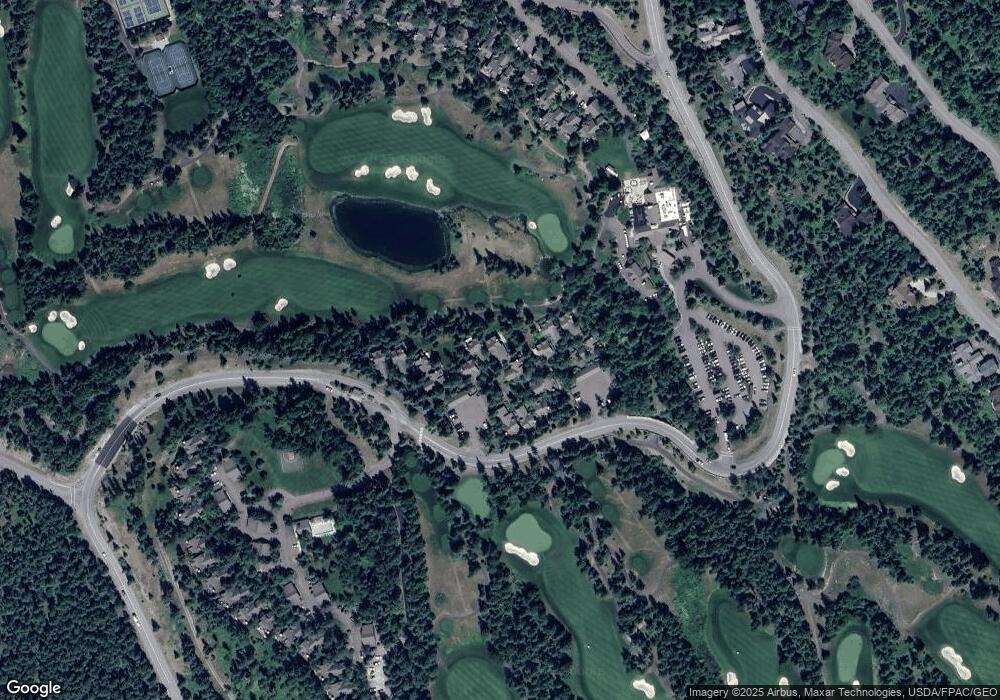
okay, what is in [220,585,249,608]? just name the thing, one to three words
house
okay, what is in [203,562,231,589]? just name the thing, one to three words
house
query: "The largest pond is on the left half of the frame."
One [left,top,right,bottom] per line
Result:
[333,197,449,268]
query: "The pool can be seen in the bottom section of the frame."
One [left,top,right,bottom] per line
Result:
[310,516,336,537]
